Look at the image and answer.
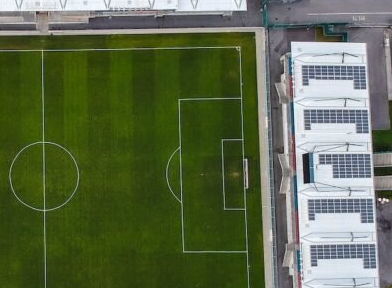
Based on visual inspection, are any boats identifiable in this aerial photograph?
No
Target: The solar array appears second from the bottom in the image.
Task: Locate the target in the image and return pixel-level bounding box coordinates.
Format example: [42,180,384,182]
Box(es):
[309,199,374,222]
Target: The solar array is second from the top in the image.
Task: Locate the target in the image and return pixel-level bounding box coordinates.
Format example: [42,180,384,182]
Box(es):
[305,110,369,133]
